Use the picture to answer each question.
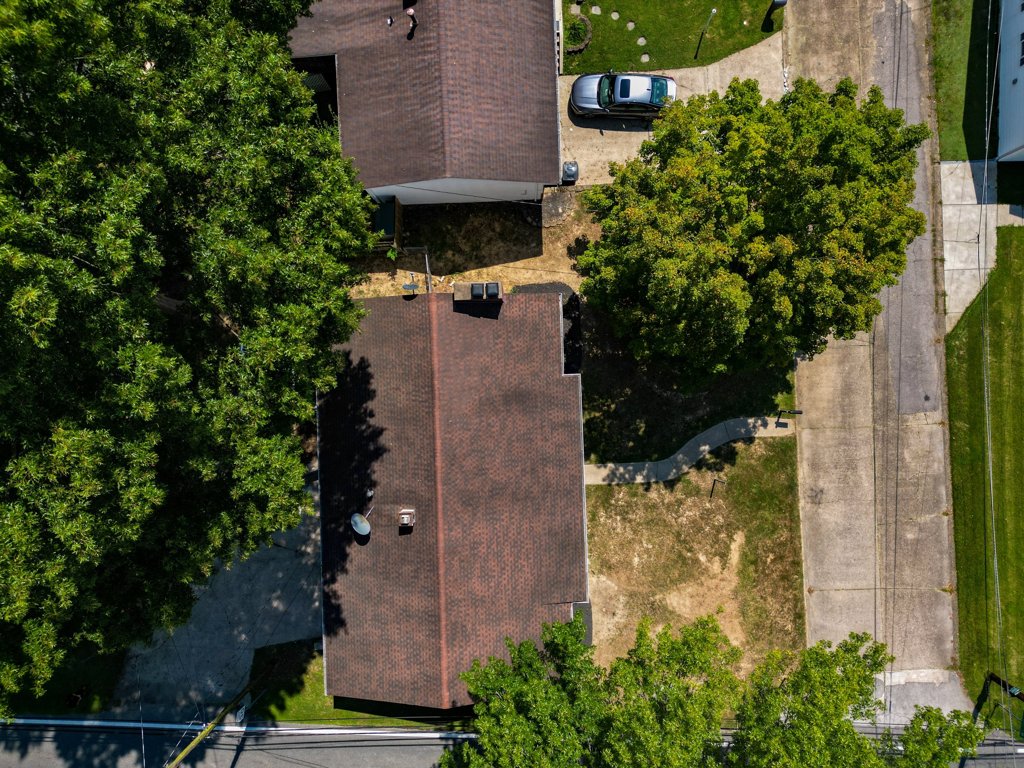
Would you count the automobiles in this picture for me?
1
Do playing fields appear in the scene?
No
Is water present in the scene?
No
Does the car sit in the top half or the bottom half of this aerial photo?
top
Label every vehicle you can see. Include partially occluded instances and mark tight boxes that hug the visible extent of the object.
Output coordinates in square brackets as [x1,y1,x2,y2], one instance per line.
[570,65,678,122]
